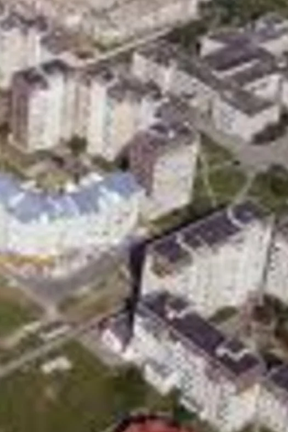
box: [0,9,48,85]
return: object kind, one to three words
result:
building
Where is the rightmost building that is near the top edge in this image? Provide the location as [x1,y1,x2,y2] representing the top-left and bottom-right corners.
[133,13,288,137]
